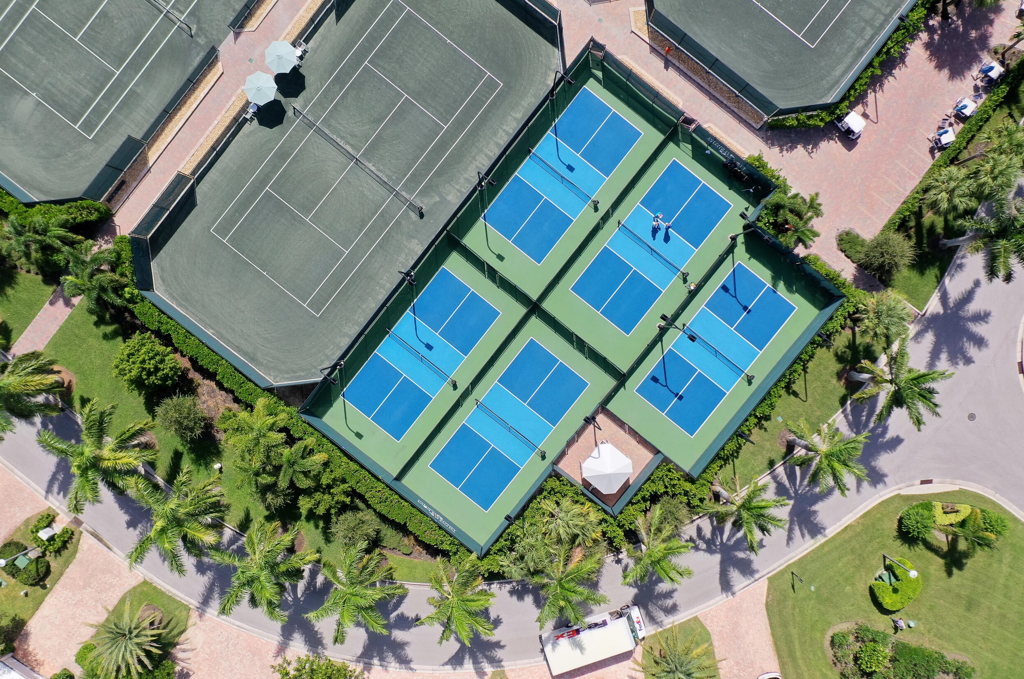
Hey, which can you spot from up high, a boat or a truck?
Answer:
truck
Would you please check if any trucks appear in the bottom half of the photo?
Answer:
Yes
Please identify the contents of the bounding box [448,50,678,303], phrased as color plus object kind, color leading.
blue sports court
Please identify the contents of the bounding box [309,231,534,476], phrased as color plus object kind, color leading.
blue sports court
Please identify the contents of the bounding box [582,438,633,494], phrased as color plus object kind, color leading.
white tent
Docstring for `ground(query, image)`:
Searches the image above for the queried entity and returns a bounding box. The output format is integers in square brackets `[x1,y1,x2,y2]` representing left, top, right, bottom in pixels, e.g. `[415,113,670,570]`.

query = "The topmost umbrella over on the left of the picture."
[264,40,298,75]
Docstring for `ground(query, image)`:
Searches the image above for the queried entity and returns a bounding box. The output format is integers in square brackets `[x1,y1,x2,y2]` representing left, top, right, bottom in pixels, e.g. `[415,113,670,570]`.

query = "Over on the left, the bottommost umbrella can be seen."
[245,72,277,105]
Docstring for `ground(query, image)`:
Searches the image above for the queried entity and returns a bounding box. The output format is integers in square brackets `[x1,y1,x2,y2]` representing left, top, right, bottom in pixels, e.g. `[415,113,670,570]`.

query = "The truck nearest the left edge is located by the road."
[541,600,648,676]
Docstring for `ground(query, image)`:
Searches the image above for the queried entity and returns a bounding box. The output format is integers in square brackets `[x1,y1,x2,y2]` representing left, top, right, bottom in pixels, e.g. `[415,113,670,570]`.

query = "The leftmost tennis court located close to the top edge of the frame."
[0,0,251,197]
